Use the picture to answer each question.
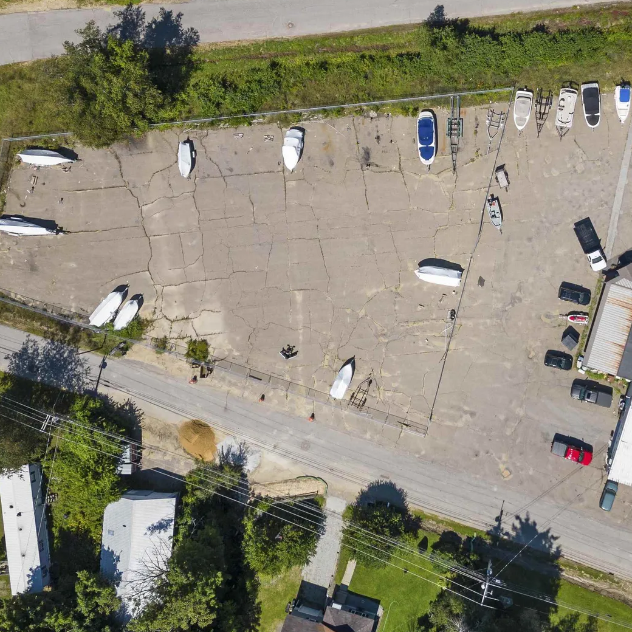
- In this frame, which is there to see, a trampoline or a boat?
boat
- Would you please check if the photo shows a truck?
Yes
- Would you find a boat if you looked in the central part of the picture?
Yes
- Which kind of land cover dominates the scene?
paved ground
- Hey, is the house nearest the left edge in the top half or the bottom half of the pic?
bottom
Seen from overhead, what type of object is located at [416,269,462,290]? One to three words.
boat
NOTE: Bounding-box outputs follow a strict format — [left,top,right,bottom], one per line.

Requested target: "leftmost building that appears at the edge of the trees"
[0,460,56,594]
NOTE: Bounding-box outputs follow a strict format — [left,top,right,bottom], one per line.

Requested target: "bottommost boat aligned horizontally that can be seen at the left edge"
[0,217,59,238]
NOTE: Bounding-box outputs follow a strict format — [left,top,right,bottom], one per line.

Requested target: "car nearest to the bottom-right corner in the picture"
[600,477,618,510]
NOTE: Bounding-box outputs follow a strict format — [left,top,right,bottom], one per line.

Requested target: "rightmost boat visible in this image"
[616,81,631,123]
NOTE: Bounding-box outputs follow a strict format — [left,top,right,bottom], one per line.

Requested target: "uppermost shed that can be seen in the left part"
[117,440,146,475]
